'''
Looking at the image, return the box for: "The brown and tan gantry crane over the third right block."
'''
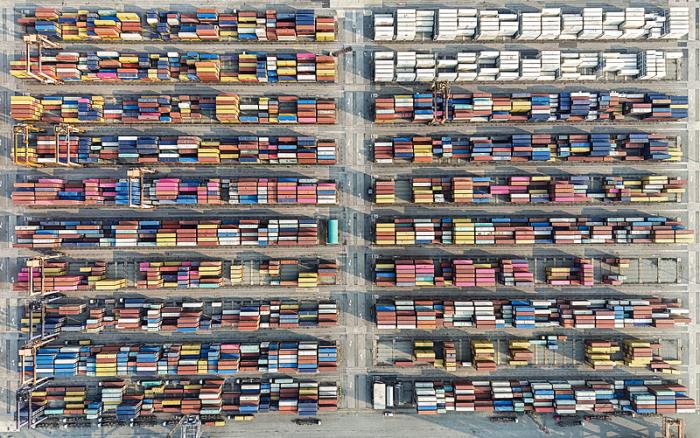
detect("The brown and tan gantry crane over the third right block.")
[423,73,449,126]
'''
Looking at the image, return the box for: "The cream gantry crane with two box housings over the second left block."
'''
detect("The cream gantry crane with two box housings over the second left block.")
[21,27,66,85]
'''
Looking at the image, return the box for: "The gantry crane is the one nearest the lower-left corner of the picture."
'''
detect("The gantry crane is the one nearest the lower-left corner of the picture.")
[14,377,55,428]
